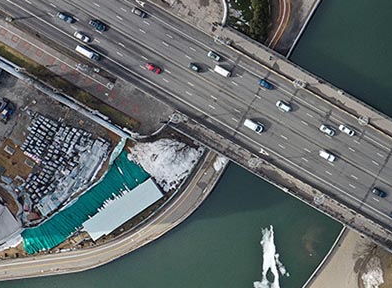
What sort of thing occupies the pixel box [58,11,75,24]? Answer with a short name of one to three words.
vehicle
